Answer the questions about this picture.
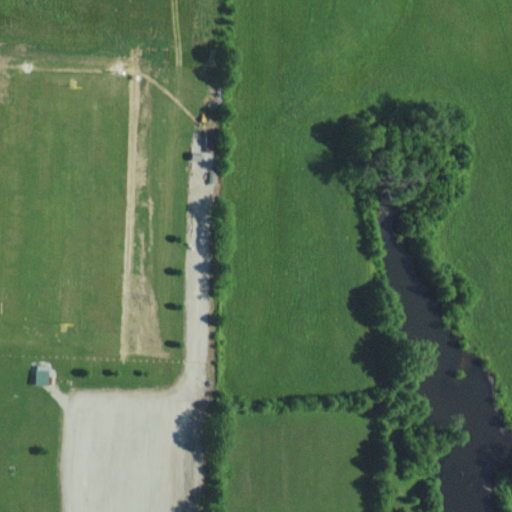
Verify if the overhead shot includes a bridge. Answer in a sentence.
No, the frame has no bridge in it.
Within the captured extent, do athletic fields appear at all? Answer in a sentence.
Yes, you can see an athletic field in this photo.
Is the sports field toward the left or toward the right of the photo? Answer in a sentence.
The sports field sits on the left side.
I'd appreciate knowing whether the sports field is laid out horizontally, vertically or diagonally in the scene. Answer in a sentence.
The sports field has been laid out vertically relative to the frame.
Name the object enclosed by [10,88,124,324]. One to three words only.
sports field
